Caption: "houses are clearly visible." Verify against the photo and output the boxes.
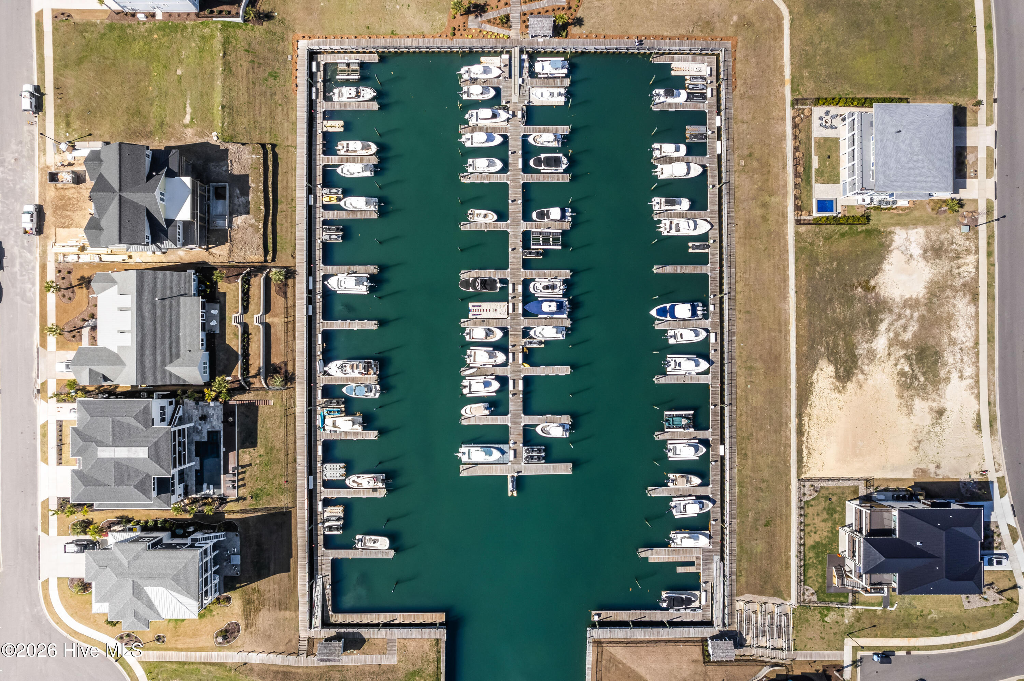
[115,0,210,20]
[84,528,231,631]
[826,500,983,595]
[84,142,223,255]
[69,270,210,385]
[70,397,197,510]
[836,103,954,204]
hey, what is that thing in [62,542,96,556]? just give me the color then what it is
white vehicle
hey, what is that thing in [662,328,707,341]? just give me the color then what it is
white boat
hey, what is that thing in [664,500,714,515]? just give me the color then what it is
white boat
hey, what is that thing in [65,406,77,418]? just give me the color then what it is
white vehicle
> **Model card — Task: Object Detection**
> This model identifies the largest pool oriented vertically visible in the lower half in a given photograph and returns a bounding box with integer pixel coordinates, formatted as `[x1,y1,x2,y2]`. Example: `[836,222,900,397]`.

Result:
[193,430,223,497]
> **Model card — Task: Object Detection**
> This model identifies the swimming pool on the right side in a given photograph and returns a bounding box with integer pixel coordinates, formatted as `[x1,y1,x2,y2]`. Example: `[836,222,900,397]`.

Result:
[813,197,838,216]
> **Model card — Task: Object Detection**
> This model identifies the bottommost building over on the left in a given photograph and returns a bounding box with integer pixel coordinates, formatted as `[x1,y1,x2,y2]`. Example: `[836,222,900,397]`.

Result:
[317,637,345,662]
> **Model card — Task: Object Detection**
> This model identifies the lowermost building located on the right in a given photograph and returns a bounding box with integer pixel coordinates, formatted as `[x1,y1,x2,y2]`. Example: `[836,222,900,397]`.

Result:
[708,635,736,661]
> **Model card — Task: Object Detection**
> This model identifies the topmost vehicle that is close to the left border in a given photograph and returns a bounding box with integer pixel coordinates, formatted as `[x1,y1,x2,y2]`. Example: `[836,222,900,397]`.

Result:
[14,82,36,111]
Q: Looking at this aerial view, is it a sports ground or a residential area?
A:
residential area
